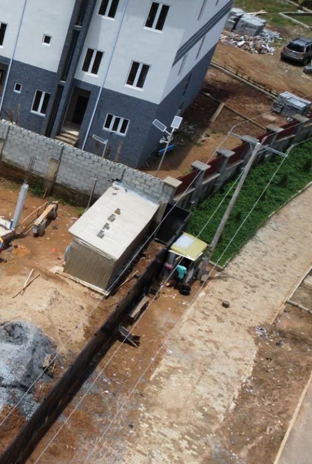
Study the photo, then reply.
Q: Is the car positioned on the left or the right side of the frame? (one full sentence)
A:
The car sits on the right side.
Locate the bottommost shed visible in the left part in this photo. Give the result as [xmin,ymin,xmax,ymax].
[63,185,158,295]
